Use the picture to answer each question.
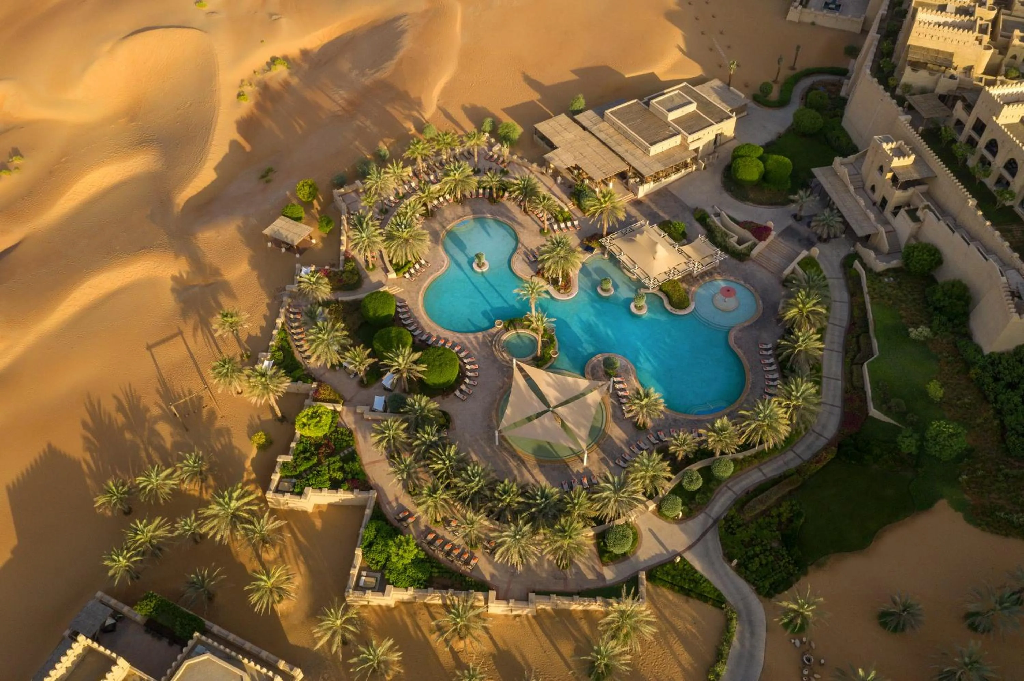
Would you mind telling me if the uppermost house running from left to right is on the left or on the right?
right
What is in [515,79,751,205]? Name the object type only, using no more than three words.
building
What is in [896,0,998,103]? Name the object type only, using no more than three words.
house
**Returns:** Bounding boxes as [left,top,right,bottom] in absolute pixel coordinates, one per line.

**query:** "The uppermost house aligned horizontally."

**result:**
[787,0,869,34]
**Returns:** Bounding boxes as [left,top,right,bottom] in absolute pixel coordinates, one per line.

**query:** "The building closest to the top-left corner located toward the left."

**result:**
[261,216,314,257]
